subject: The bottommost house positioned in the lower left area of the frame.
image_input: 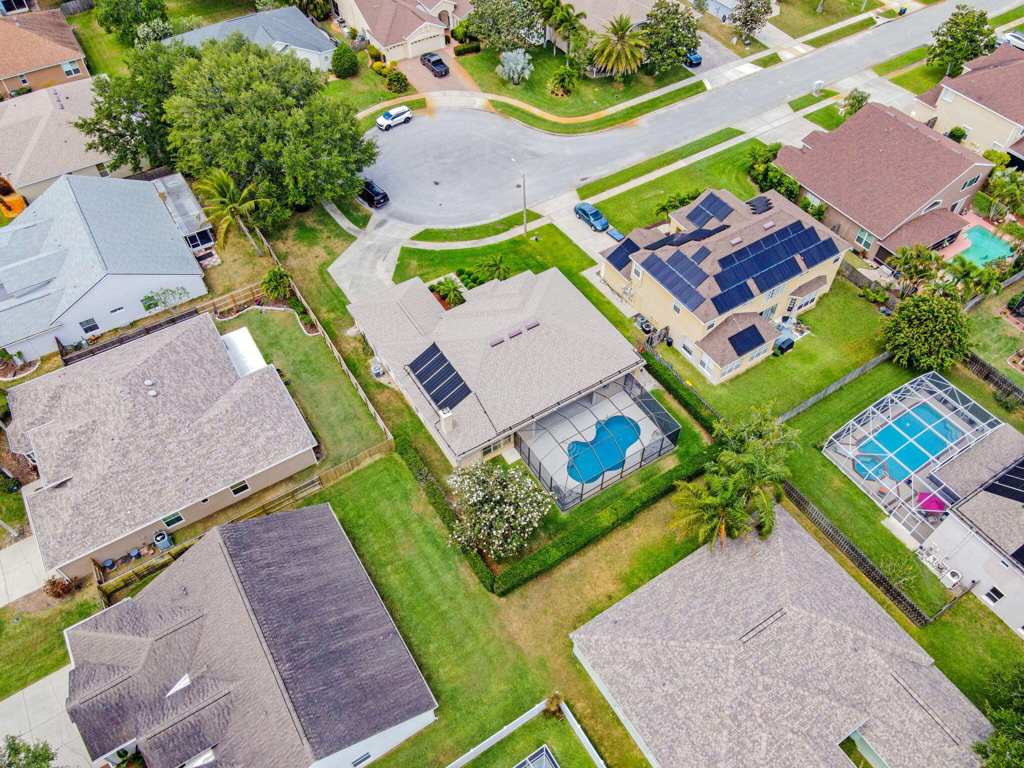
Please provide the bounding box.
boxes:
[55,500,439,768]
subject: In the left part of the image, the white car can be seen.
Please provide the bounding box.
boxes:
[375,105,413,129]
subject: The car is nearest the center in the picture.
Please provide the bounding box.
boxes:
[573,199,609,232]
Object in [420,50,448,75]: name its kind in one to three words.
truck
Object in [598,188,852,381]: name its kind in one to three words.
house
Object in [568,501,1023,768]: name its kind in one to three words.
house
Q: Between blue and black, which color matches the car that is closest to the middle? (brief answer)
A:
blue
